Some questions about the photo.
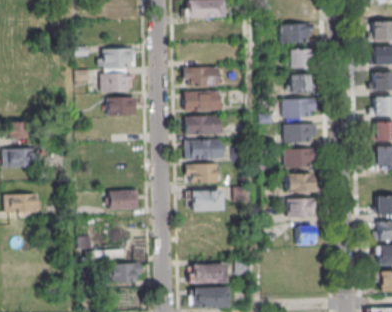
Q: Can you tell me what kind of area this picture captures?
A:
residential area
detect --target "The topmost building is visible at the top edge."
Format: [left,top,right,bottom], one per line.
[184,0,227,19]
